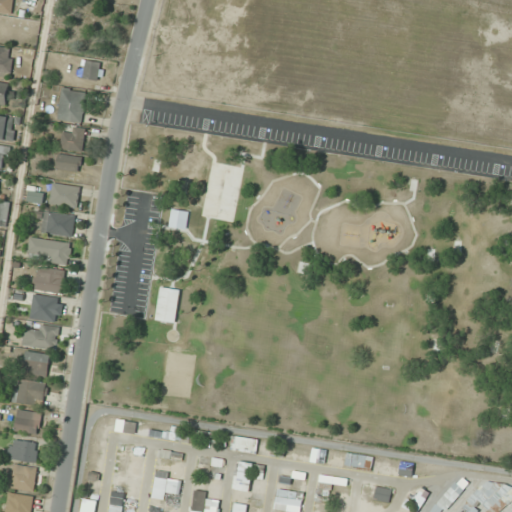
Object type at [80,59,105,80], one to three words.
house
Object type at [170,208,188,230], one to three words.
building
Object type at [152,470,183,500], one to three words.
house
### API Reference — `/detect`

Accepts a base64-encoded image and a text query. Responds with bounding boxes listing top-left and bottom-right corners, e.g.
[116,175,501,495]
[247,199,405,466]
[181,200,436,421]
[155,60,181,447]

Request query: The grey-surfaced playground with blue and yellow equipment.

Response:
[258,188,302,234]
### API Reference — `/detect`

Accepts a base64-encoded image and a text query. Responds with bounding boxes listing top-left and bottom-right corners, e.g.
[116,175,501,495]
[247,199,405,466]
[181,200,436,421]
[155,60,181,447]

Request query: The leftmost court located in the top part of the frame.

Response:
[202,162,244,222]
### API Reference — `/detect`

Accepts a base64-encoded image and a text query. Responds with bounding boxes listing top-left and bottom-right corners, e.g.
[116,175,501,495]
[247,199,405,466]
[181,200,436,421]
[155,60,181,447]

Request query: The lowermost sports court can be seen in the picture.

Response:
[164,352,196,398]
